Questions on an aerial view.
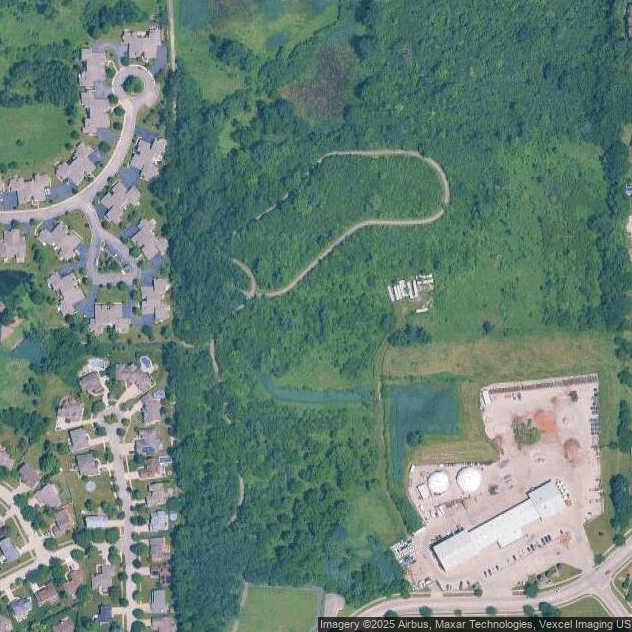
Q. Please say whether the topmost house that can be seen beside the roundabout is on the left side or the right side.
left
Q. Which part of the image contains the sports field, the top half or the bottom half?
bottom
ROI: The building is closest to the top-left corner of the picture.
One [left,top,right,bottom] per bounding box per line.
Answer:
[81,46,109,95]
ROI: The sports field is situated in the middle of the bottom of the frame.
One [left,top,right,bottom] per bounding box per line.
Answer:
[233,580,323,632]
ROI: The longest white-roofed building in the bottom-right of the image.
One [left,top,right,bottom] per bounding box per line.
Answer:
[434,483,566,571]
